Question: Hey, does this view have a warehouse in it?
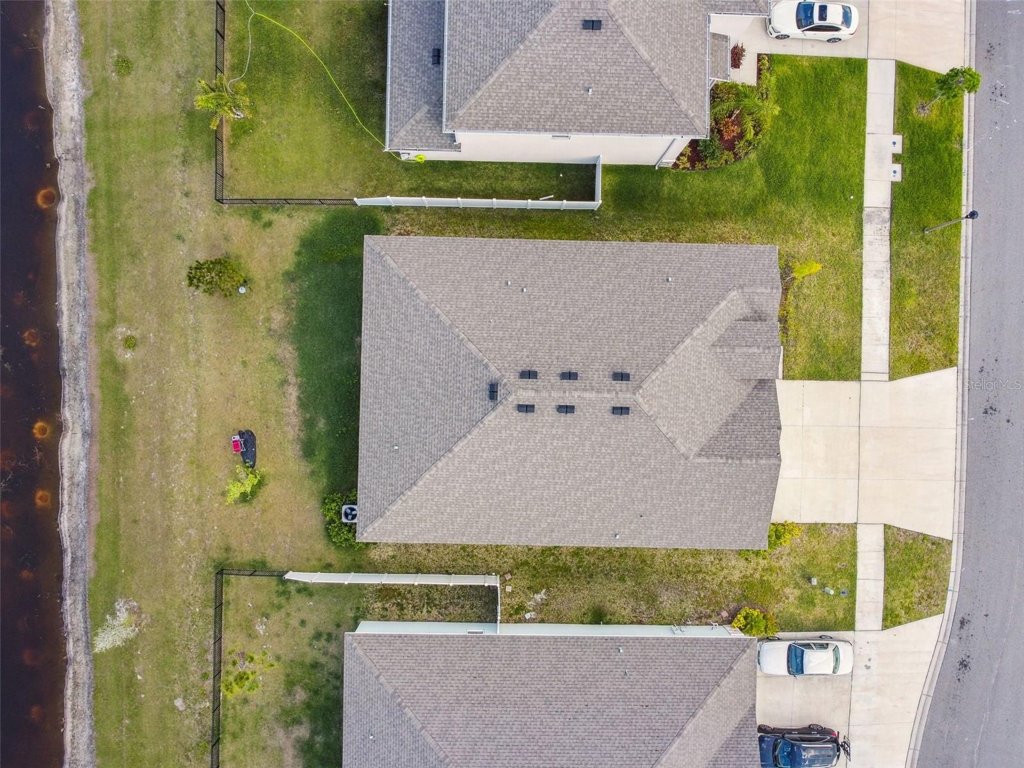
No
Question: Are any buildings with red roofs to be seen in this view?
No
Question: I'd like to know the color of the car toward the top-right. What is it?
white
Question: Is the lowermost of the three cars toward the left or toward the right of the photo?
right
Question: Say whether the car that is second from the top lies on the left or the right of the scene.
right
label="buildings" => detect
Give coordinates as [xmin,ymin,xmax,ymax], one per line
[384,0,773,171]
[356,235,783,551]
[341,622,762,768]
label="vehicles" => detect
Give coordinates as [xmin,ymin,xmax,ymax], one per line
[766,0,861,45]
[758,634,854,680]
[758,723,841,768]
